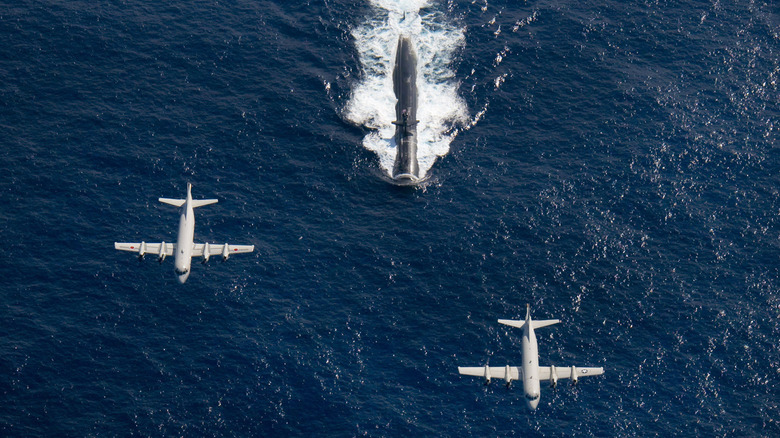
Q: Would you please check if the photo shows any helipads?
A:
No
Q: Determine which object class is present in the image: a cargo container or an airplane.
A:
airplane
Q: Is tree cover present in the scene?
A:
No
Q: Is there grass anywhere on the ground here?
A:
No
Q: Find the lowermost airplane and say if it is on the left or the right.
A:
right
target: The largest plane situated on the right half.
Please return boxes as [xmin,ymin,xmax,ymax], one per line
[459,304,604,411]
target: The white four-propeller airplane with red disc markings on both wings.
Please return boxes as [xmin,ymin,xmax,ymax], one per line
[115,184,254,285]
